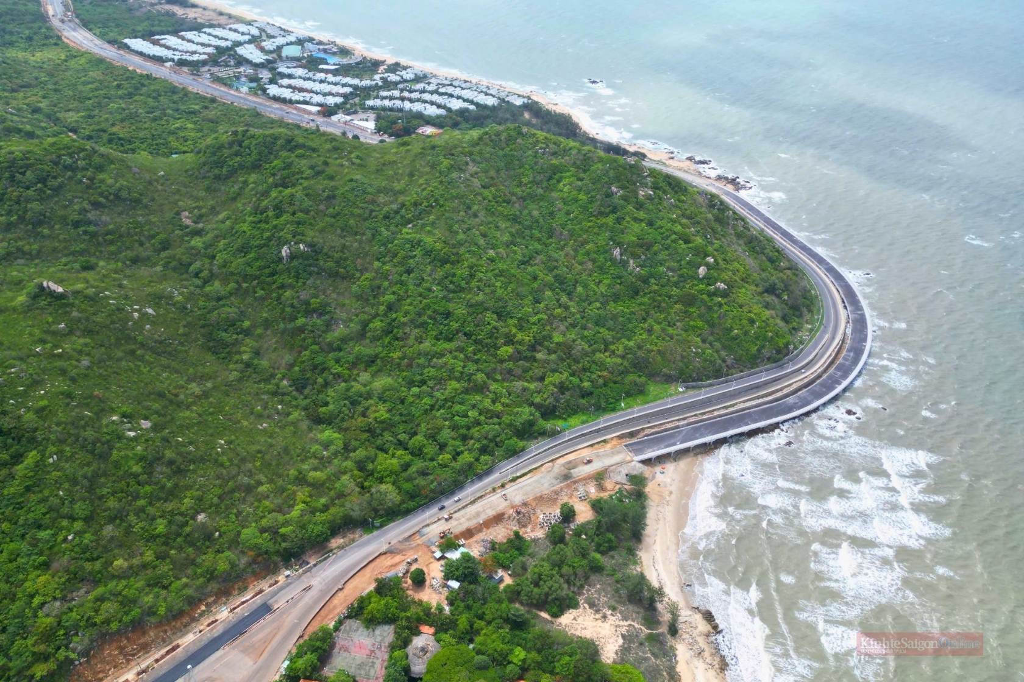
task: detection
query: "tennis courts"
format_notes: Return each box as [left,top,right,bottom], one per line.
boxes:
[332,619,397,682]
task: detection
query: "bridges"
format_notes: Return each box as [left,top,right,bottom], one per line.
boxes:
[623,191,869,461]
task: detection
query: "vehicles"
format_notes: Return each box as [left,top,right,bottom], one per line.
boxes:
[438,525,457,539]
[511,501,521,517]
[452,496,461,502]
[583,456,593,463]
[501,491,508,499]
[443,513,453,520]
[437,503,447,510]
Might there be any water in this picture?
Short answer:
Yes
